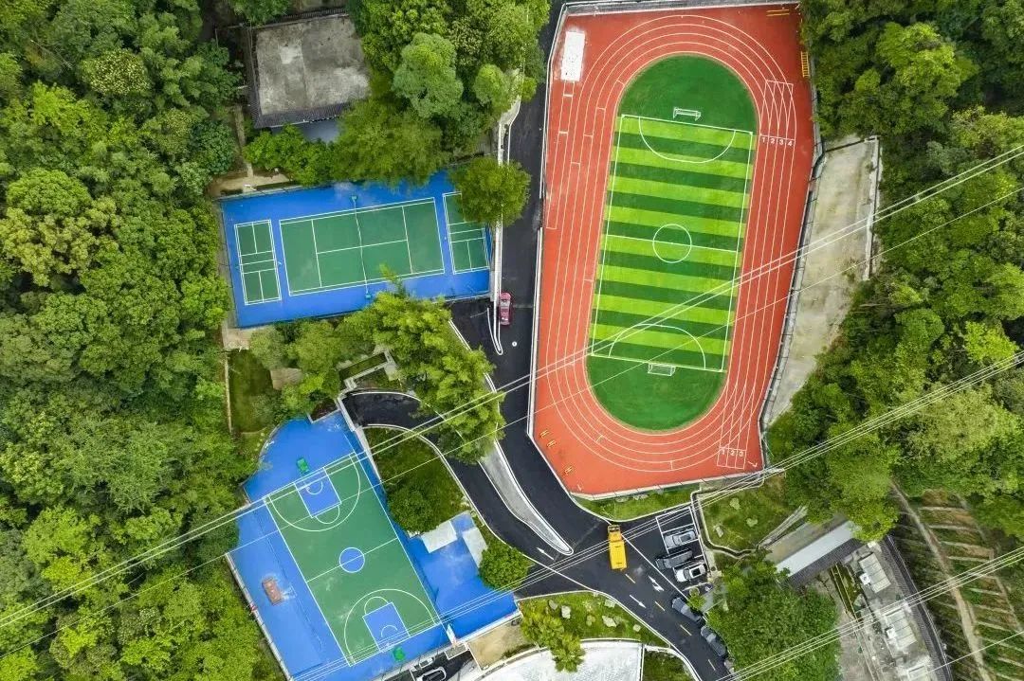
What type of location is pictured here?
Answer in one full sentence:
It's a sports ground.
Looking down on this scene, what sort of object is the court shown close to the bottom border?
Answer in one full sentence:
The court shown close to the bottom border is a basketball court.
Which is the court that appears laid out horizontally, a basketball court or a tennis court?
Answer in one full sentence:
The court that appears laid out horizontally in the image is a tennis court.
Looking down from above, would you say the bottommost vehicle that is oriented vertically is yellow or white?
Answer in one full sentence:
The color of the bottommost vehicle that is oriented vertically is yellow.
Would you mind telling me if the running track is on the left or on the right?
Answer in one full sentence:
The running track appears in the right half of the scene.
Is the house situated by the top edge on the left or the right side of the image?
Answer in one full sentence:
You can find the house situated by the top edge on the left side of the picture.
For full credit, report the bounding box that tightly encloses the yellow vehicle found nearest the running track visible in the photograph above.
[607,528,627,570]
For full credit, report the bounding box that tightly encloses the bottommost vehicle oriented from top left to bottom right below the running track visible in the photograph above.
[699,626,727,656]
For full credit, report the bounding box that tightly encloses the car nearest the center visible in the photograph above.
[498,293,512,325]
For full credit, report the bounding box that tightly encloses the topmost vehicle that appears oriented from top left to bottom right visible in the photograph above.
[672,597,703,622]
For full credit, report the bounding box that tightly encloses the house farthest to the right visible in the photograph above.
[838,528,951,681]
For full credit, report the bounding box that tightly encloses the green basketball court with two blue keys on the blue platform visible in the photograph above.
[264,452,442,667]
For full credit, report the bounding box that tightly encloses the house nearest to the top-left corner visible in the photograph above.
[248,8,379,129]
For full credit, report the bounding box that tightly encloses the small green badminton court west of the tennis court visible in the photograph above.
[234,220,282,305]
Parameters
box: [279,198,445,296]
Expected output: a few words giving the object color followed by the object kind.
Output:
green tennis court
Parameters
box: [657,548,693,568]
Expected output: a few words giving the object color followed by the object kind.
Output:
gray car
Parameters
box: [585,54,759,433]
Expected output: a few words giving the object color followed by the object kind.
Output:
green soccer field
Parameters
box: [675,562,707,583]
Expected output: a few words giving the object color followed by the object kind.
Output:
white car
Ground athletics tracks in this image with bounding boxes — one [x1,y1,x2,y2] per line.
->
[532,3,814,499]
